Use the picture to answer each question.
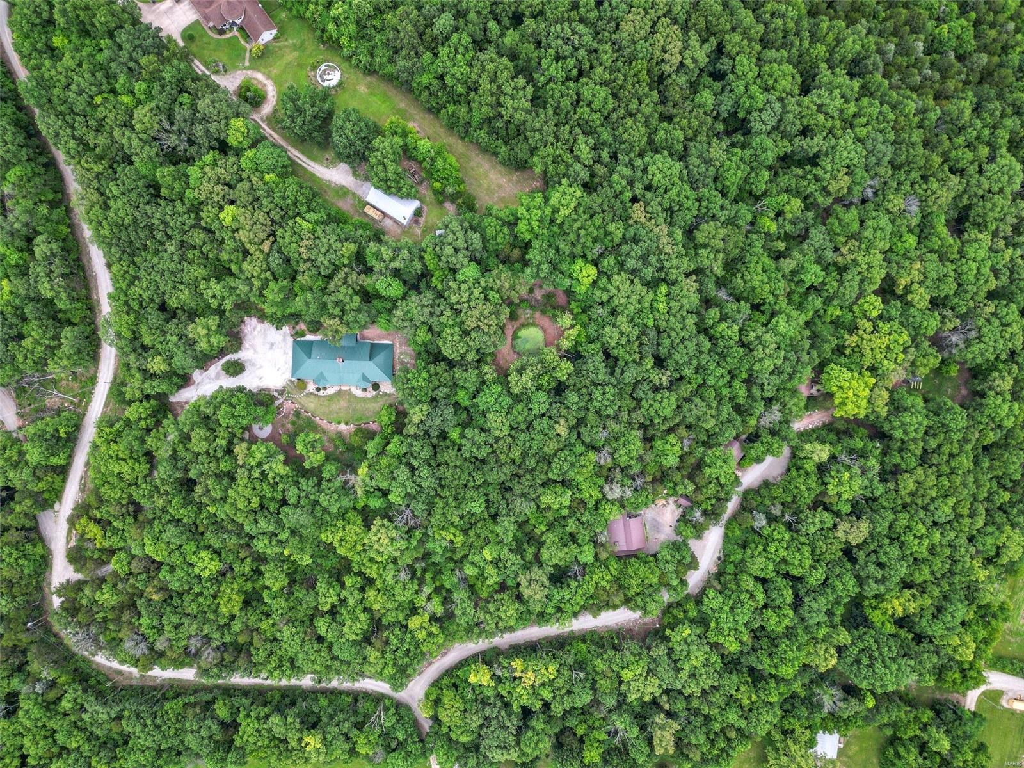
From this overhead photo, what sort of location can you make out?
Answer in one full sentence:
What you see here is a forest.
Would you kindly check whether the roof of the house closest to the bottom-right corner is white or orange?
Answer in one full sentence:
In this view, the roof of the house closest to the bottom-right corner is white.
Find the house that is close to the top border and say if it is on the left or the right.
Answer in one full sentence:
It is on the left.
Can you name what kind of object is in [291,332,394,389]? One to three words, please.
house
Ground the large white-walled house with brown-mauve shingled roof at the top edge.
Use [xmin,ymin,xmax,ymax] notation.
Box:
[190,0,279,45]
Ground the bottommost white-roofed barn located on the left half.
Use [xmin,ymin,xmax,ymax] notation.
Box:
[366,184,421,226]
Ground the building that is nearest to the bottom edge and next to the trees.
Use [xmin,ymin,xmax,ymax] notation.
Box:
[812,730,845,759]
